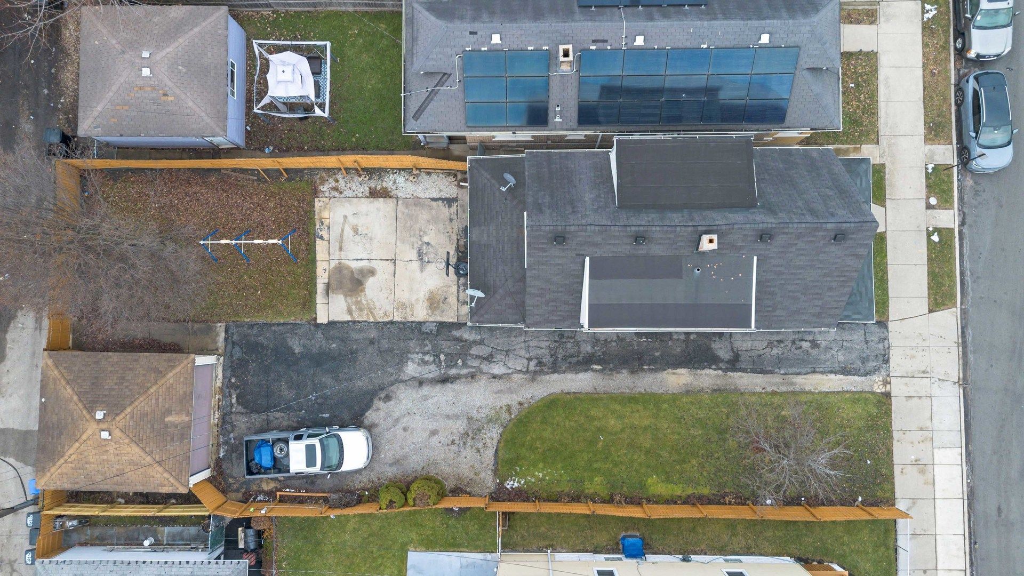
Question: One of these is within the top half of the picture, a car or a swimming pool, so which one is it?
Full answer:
What appears within the top half of the picture is a car.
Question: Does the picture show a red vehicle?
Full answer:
No, no red vehicle is visible in the scene.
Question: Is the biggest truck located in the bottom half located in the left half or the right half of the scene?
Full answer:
The biggest truck located in the bottom half is on the left side of the image.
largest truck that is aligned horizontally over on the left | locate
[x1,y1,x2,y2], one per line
[246,425,377,481]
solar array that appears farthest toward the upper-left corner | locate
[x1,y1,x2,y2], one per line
[464,43,548,127]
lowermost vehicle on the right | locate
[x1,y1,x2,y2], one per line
[953,73,1018,176]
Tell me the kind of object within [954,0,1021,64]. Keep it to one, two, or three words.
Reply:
car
